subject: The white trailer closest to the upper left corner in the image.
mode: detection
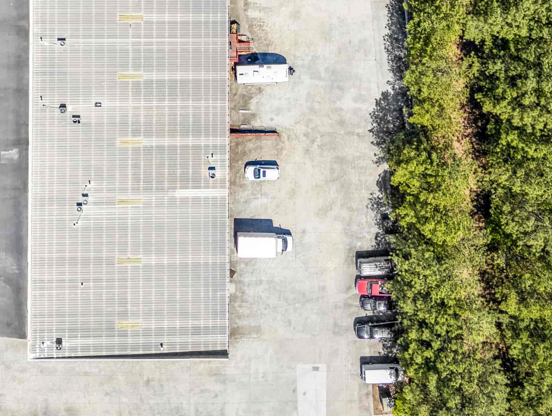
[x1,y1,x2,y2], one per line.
[230,64,296,87]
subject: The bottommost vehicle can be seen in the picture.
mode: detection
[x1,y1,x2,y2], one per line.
[361,364,405,387]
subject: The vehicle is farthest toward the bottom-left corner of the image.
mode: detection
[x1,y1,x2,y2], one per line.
[236,235,292,259]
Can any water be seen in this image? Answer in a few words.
No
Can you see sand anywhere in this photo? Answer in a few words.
No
